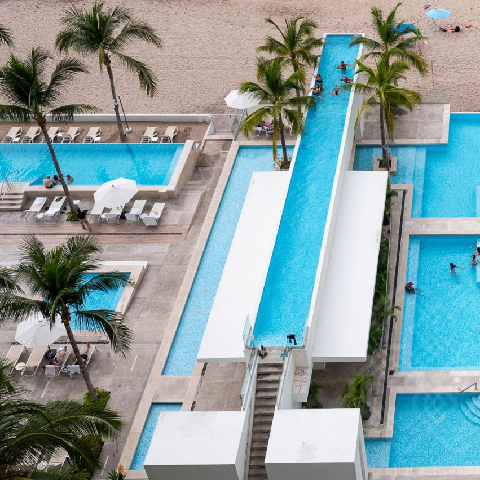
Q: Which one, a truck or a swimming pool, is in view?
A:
swimming pool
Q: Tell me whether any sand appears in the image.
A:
Yes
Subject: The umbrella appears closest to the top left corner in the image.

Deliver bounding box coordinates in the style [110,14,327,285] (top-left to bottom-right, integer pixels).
[89,181,141,227]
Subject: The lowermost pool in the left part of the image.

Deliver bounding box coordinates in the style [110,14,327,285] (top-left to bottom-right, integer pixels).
[129,383,200,480]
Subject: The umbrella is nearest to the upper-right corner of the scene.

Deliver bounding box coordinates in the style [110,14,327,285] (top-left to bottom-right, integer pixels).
[425,8,453,34]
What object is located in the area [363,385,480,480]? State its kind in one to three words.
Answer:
swimming pool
